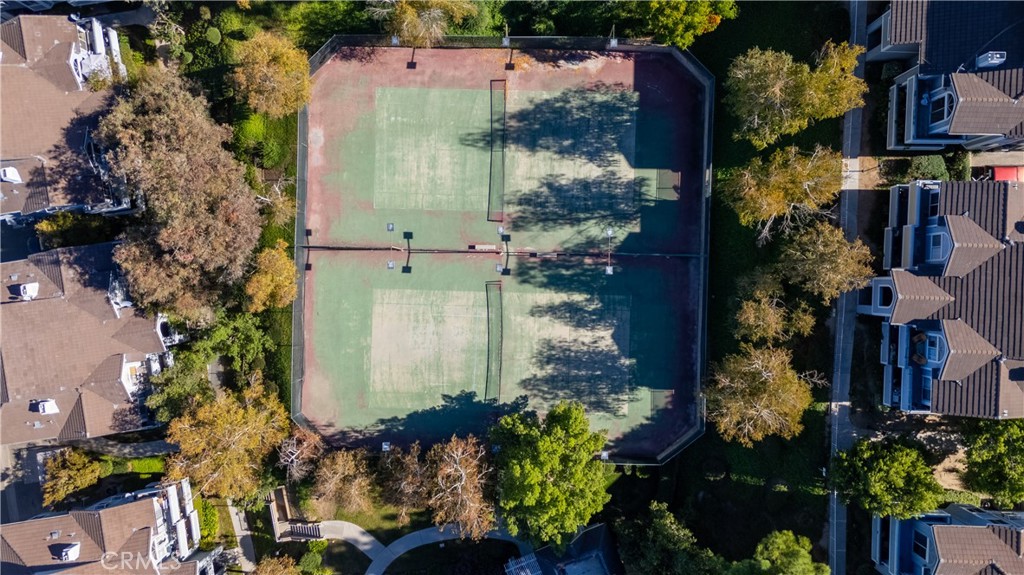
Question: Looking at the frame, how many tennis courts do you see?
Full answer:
Altogether the scene contains 2 tennis courts.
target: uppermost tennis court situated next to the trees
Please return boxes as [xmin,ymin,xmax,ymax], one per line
[304,46,705,255]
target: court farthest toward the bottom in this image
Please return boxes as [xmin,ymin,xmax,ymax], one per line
[301,247,701,458]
